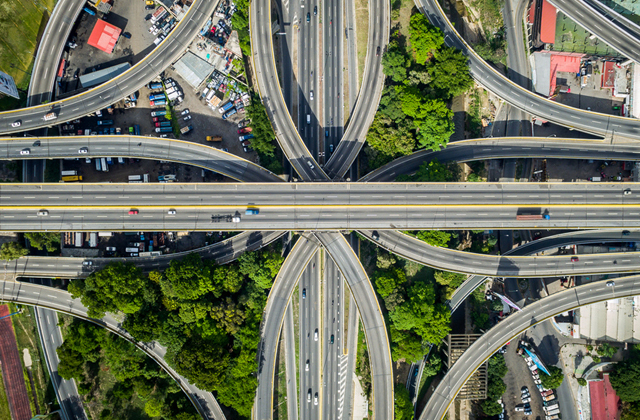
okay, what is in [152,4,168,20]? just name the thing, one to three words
vehicle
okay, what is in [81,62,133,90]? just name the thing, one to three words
shed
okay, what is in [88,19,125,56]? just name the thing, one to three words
building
